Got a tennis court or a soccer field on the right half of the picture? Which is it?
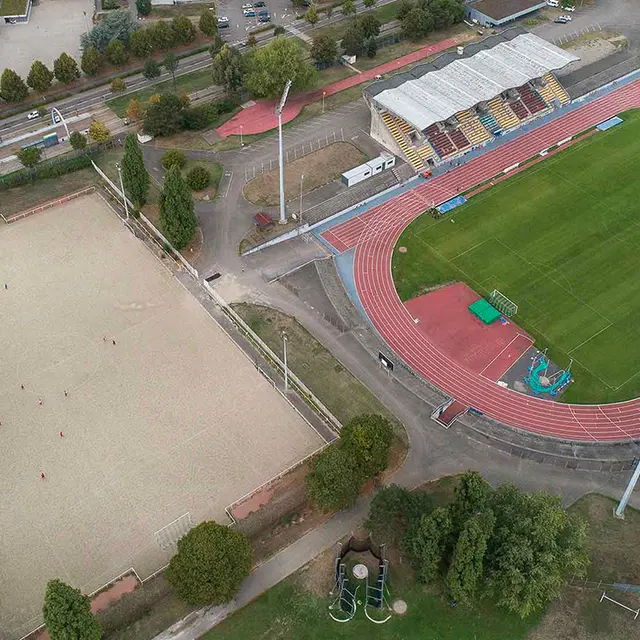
soccer field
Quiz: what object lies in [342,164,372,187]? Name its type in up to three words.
building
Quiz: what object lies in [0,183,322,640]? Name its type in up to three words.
soccer field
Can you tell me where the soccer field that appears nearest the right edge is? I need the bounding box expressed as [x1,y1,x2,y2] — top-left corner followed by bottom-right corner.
[391,105,640,406]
